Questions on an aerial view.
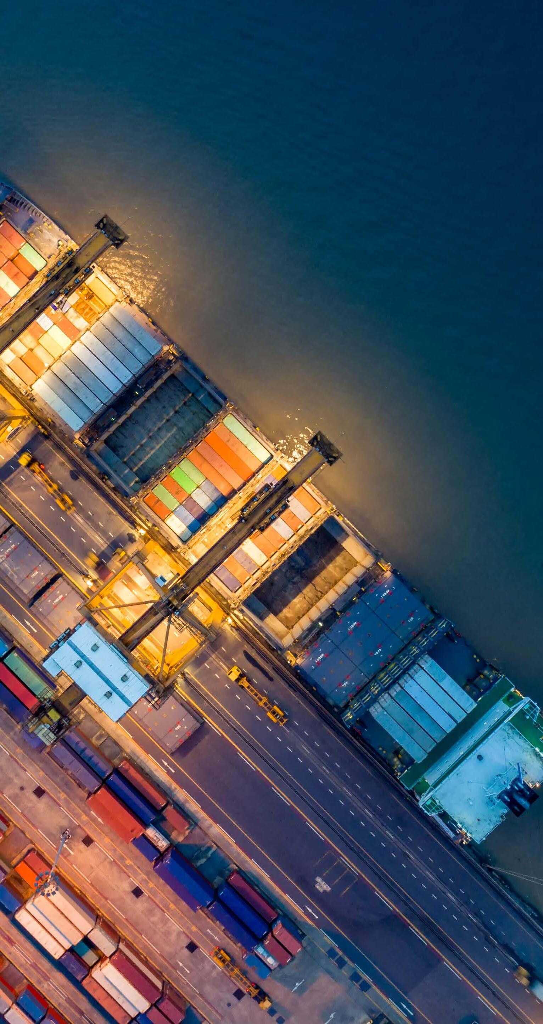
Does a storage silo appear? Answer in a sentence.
No, there appears to be no storage silo in this shot.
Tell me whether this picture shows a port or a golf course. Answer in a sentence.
This looks like a port.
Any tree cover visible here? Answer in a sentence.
No, tree cover can't be seen anywhere here.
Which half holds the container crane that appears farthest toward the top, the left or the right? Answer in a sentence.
It is on the left.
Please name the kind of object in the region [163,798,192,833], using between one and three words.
shipping container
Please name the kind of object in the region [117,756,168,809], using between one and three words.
shipping container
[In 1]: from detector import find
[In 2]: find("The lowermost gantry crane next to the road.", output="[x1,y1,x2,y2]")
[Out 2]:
[22,431,348,746]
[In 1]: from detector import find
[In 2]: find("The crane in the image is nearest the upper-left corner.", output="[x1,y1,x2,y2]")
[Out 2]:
[0,214,134,501]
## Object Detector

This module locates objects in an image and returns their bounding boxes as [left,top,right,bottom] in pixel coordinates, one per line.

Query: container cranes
[0,214,134,501]
[22,431,348,746]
